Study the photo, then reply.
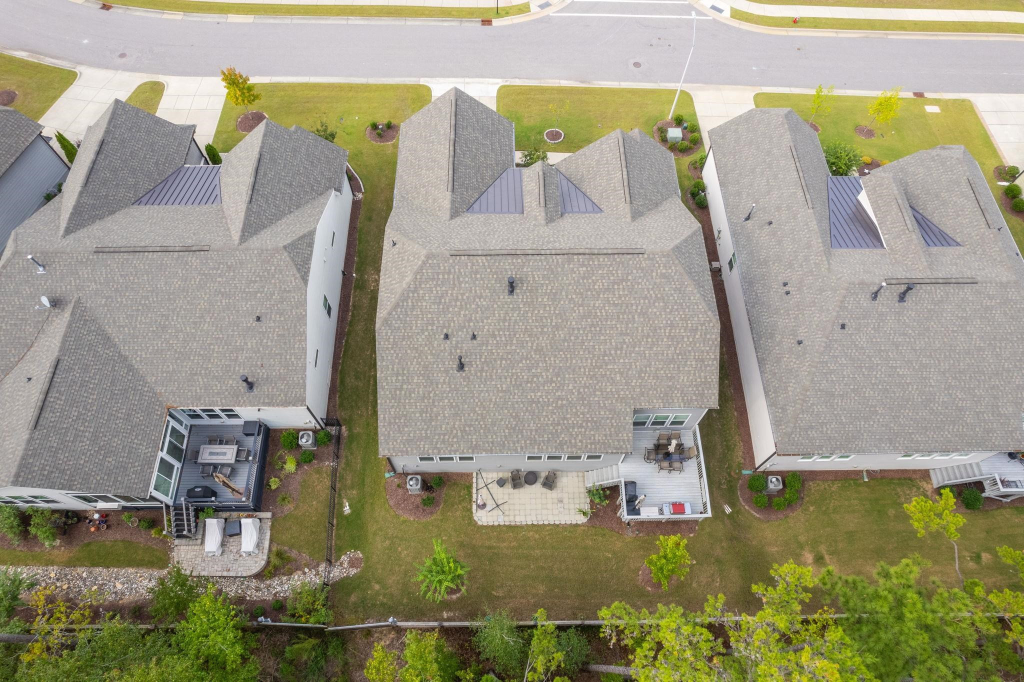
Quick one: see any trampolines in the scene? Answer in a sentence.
No, there's no trampoline here.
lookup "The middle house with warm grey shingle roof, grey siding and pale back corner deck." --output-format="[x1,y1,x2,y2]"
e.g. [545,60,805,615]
[374,87,714,479]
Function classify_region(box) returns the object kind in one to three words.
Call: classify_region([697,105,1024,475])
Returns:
house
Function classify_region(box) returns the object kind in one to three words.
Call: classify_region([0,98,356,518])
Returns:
house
